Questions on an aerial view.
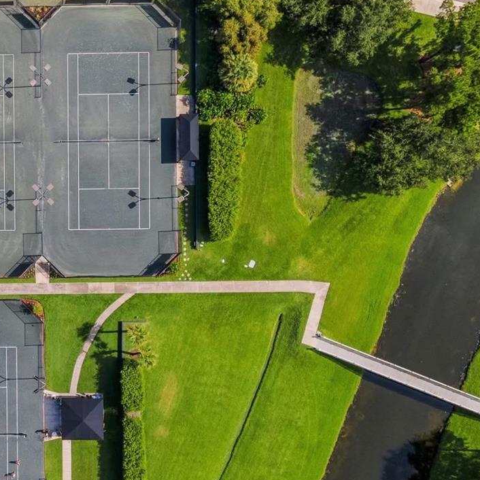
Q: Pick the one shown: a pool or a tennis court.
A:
tennis court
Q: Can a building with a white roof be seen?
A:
No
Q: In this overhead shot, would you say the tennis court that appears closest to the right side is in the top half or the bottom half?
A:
top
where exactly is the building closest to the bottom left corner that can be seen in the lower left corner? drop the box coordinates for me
[62,394,103,440]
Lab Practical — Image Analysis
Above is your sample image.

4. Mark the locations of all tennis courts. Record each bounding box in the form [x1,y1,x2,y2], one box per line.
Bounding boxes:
[41,3,179,277]
[0,5,42,278]
[0,298,46,480]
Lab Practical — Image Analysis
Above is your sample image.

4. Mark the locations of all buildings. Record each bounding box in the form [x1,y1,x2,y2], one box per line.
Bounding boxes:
[174,114,200,161]
[62,394,103,440]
